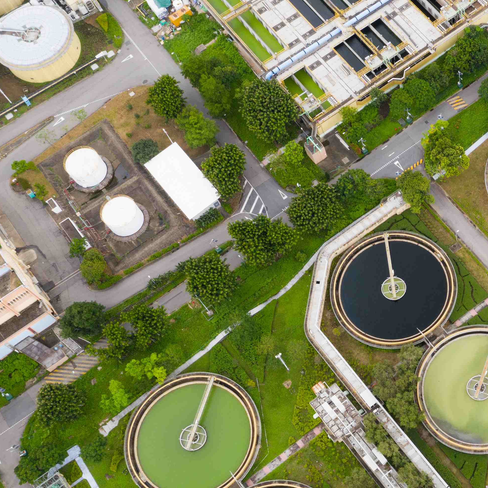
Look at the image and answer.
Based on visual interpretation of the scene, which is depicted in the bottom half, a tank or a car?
tank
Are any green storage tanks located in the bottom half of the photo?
Yes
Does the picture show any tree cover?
Yes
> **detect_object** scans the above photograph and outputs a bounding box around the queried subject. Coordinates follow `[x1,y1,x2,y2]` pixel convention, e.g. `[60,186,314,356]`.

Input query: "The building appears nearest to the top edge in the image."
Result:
[146,143,224,225]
